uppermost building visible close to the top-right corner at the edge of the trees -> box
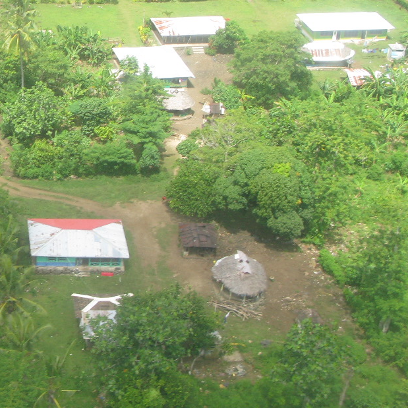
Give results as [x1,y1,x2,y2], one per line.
[300,11,395,44]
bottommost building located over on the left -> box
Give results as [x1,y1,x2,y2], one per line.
[75,293,140,346]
